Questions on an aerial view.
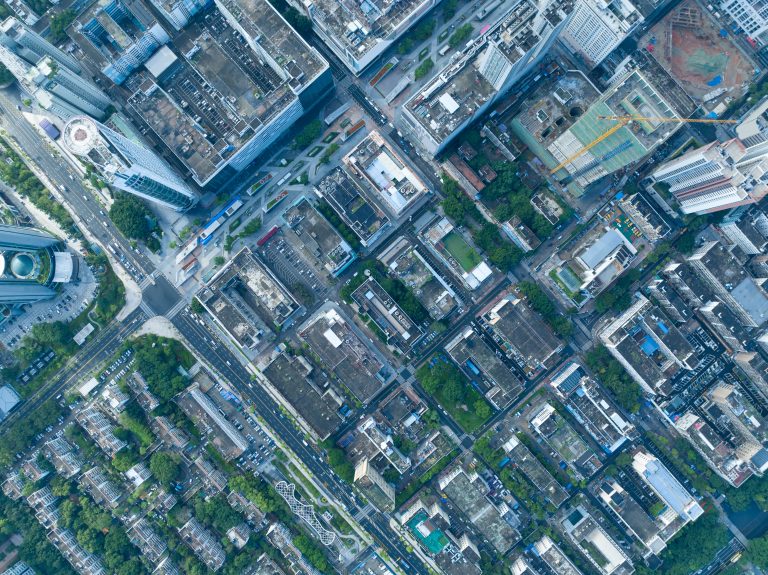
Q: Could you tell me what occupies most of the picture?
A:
buildings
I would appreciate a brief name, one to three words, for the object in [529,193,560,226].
house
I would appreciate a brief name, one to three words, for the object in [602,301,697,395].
building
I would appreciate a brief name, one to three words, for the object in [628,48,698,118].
shed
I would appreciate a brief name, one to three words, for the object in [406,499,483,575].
building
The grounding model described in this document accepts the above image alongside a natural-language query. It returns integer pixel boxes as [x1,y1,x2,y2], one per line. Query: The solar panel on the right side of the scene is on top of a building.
[611,247,634,266]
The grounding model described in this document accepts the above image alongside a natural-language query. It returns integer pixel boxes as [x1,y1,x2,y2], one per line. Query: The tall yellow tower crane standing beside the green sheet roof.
[550,115,739,174]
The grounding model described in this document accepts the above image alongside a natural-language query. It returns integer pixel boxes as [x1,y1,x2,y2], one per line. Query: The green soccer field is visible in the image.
[442,229,483,272]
